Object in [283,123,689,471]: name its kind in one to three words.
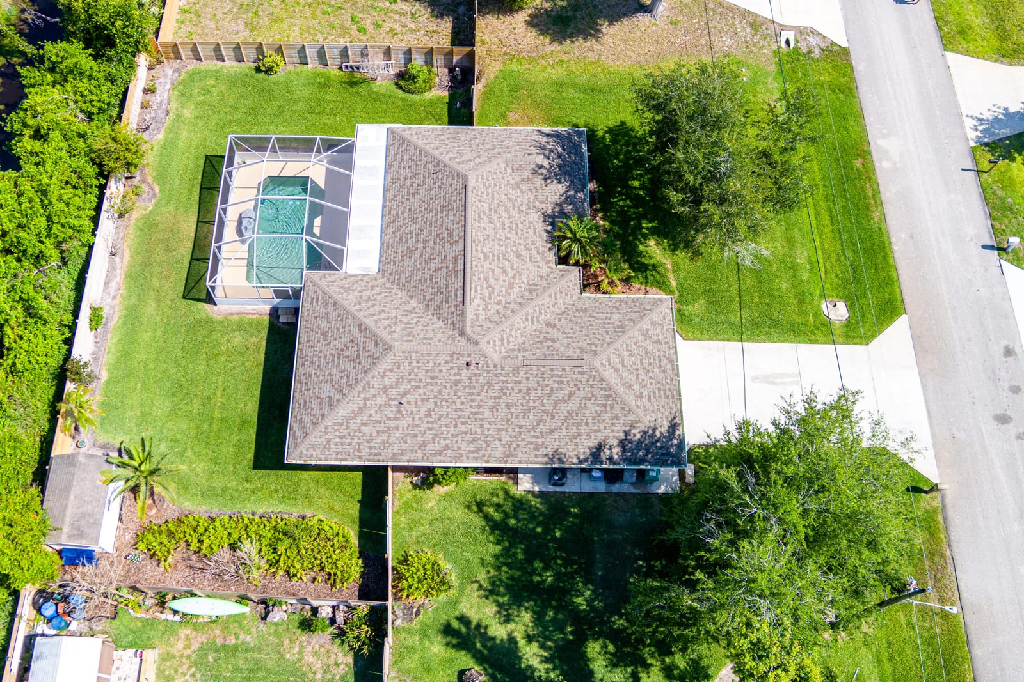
house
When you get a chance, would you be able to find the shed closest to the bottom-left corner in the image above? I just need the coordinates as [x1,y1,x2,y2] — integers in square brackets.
[27,637,119,682]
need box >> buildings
[27,637,119,682]
[283,123,689,471]
[50,451,127,554]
